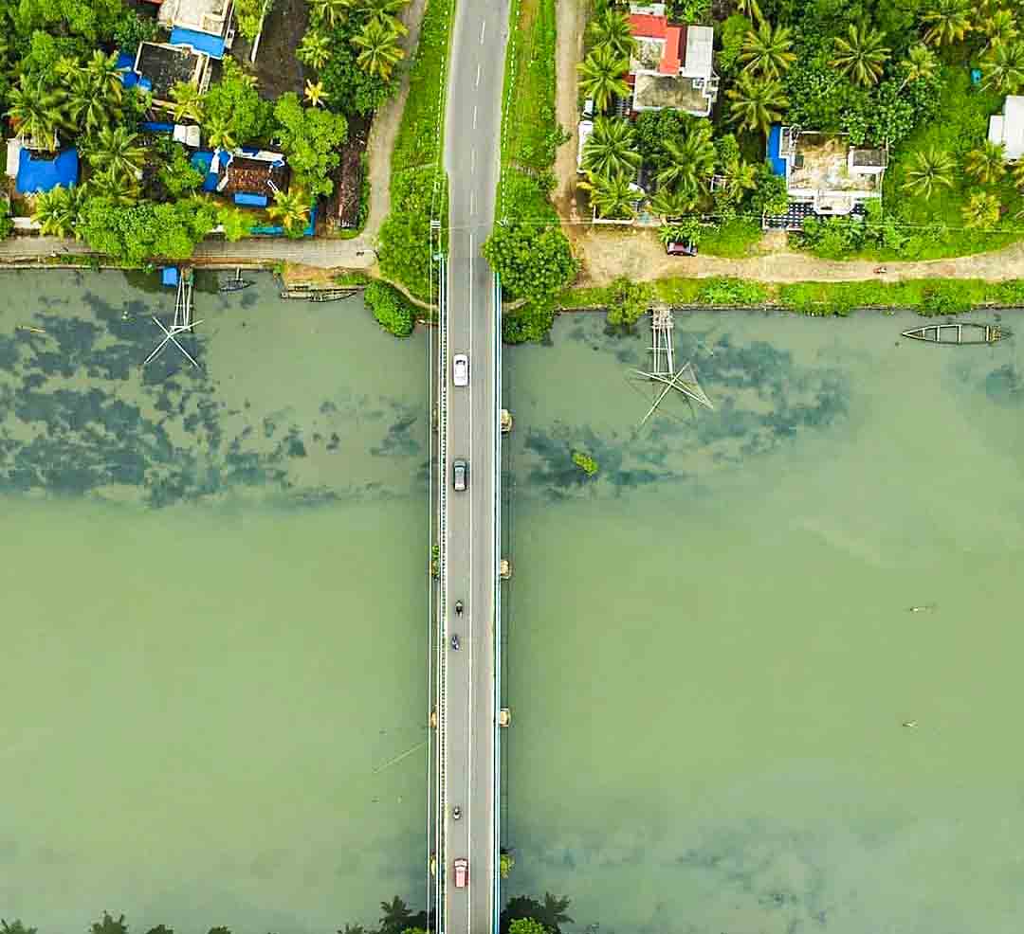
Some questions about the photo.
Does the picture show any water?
Yes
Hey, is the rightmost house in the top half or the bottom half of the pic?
top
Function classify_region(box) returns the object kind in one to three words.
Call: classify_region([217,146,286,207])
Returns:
house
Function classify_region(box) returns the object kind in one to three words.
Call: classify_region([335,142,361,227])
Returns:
shed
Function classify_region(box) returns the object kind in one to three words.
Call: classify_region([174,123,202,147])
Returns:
shed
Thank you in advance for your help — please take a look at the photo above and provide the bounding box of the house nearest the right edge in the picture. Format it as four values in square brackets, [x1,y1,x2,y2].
[982,95,1024,163]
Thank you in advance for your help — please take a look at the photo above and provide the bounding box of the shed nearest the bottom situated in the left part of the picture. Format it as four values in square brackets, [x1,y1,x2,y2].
[161,266,183,287]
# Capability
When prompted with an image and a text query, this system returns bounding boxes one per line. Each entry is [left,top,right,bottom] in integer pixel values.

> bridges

[436,248,512,934]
